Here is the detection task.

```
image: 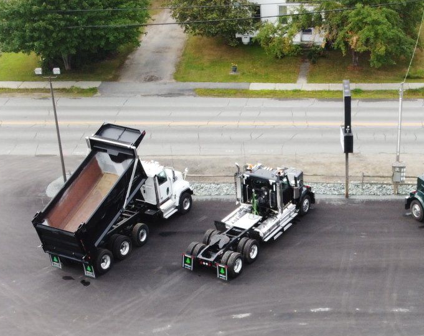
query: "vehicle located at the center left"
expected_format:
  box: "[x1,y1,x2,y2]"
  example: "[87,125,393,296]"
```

[27,119,195,276]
